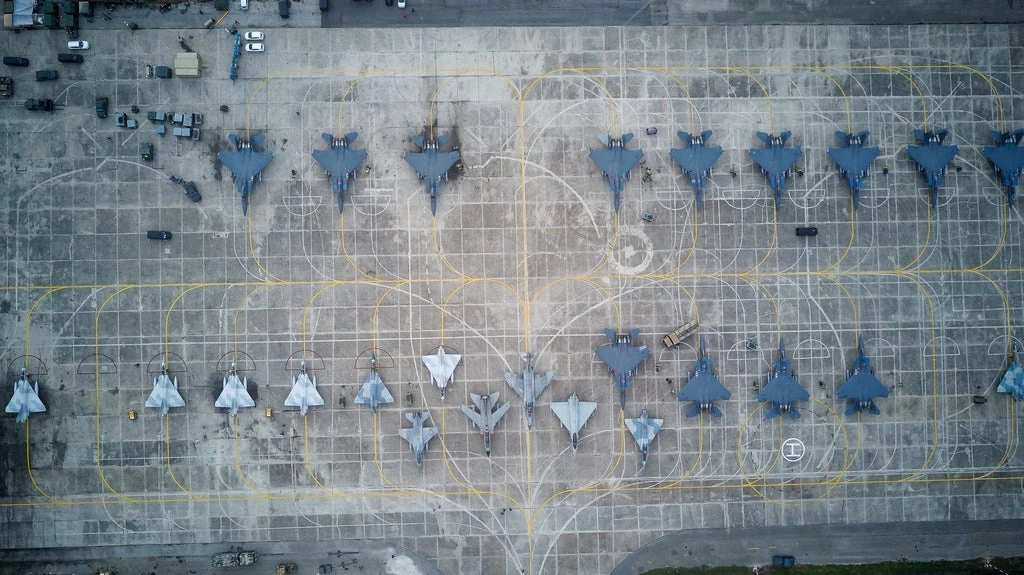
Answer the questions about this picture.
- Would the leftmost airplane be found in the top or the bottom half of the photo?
bottom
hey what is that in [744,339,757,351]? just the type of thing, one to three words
vehicle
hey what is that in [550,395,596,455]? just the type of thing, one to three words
airplane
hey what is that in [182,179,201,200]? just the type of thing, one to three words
vehicle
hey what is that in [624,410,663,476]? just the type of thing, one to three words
airplane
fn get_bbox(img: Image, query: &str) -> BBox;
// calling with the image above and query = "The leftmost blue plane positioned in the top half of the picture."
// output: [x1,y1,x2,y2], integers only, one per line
[217,134,275,216]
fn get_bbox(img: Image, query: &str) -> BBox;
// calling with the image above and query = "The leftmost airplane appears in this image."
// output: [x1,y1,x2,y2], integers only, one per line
[5,363,46,425]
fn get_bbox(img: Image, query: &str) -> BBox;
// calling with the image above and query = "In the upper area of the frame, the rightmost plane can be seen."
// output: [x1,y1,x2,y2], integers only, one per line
[982,126,1024,205]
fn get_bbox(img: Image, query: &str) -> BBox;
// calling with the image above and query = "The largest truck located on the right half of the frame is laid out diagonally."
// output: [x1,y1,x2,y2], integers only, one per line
[662,319,700,349]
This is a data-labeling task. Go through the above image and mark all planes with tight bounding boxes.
[749,129,805,209]
[311,132,369,214]
[354,351,394,412]
[217,134,275,216]
[906,128,961,207]
[756,339,811,419]
[669,130,725,210]
[404,133,461,213]
[835,337,890,416]
[5,363,46,425]
[461,391,510,458]
[284,356,324,416]
[421,346,460,411]
[215,356,255,417]
[145,357,186,418]
[827,129,883,209]
[588,131,644,211]
[624,410,663,476]
[550,395,596,455]
[676,338,732,419]
[396,412,439,474]
[595,329,651,410]
[503,352,553,432]
[982,126,1024,205]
